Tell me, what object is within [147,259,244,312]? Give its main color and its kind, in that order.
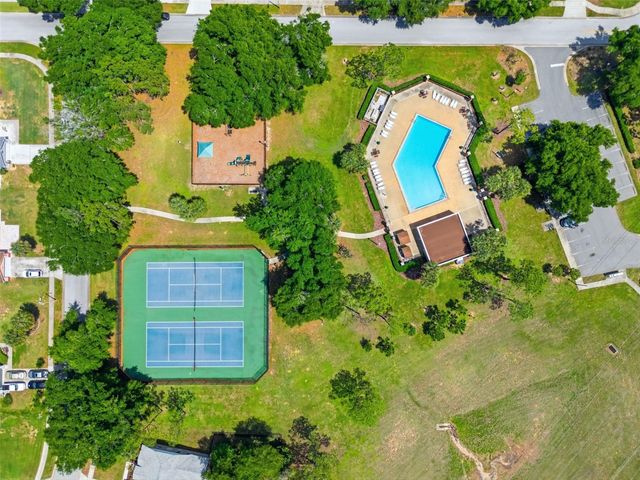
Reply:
blue tennis court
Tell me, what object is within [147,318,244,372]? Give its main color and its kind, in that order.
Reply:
blue tennis court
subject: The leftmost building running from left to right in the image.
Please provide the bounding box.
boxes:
[132,444,208,480]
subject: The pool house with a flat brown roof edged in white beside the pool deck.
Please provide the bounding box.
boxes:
[417,212,471,266]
